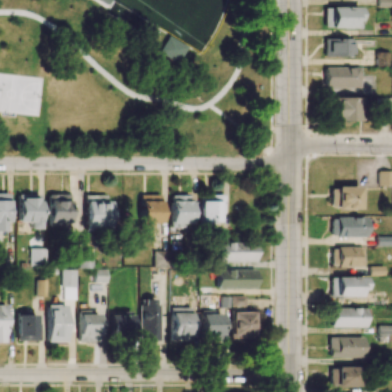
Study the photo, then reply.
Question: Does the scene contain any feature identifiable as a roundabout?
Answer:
No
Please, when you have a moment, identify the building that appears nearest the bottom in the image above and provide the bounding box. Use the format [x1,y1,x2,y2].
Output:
[332,368,368,388]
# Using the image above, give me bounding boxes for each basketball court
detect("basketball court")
[0,74,44,117]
